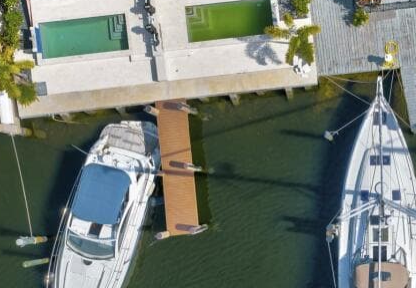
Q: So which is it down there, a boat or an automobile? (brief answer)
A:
boat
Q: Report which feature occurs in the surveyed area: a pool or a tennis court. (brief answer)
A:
pool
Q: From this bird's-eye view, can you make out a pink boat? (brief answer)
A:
No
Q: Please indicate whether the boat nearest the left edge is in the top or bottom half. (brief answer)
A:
bottom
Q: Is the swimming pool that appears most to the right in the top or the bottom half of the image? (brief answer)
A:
top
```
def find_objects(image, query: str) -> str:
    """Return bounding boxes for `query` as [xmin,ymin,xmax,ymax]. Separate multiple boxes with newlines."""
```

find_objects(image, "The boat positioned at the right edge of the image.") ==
[336,74,416,288]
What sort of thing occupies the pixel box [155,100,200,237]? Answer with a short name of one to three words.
pier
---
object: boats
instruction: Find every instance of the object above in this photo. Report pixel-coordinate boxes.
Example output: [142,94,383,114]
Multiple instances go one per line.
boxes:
[336,74,416,288]
[47,120,161,288]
